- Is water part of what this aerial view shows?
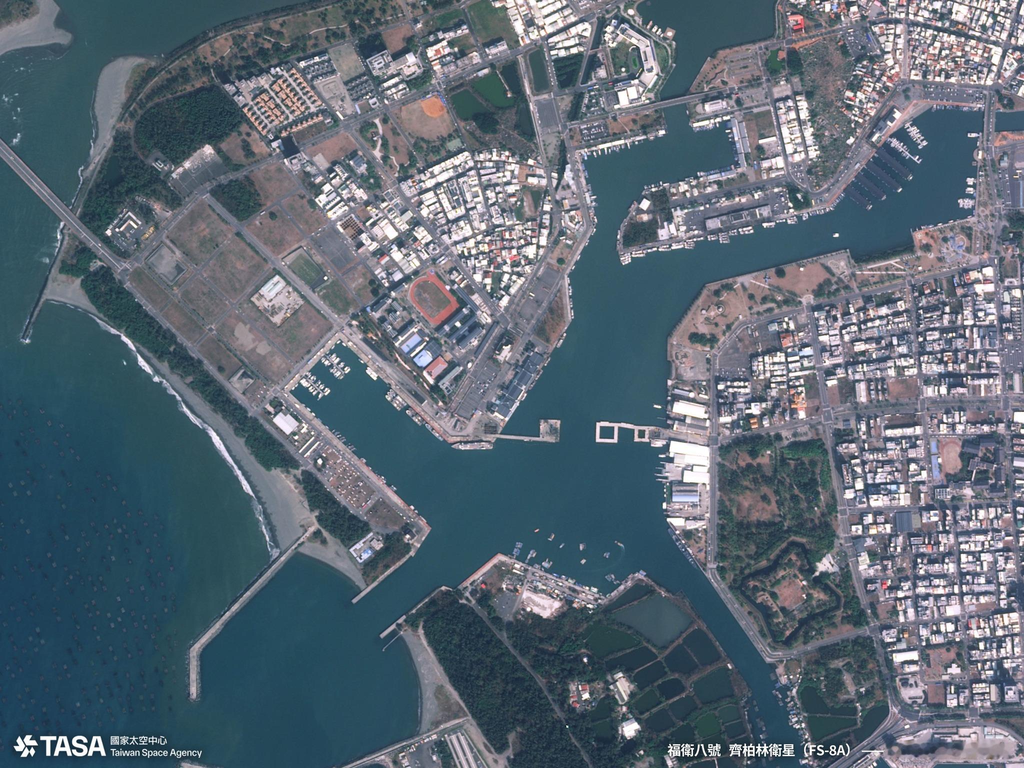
Yes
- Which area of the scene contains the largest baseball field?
top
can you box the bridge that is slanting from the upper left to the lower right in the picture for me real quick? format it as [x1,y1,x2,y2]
[0,142,129,269]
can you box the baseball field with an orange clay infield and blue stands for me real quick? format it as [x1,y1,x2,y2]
[401,92,453,139]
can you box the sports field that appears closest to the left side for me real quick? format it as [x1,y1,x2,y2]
[282,246,327,289]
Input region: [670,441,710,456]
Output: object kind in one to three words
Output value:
building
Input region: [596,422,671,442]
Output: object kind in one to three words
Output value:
pier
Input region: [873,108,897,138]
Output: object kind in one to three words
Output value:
building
